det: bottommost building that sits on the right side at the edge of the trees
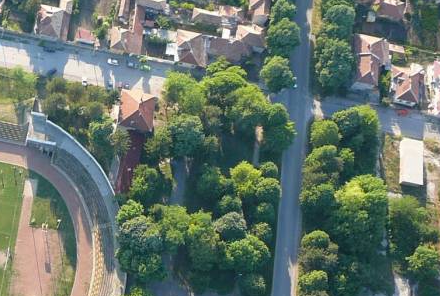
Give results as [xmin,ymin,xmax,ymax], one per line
[395,138,423,189]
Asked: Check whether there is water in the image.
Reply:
No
